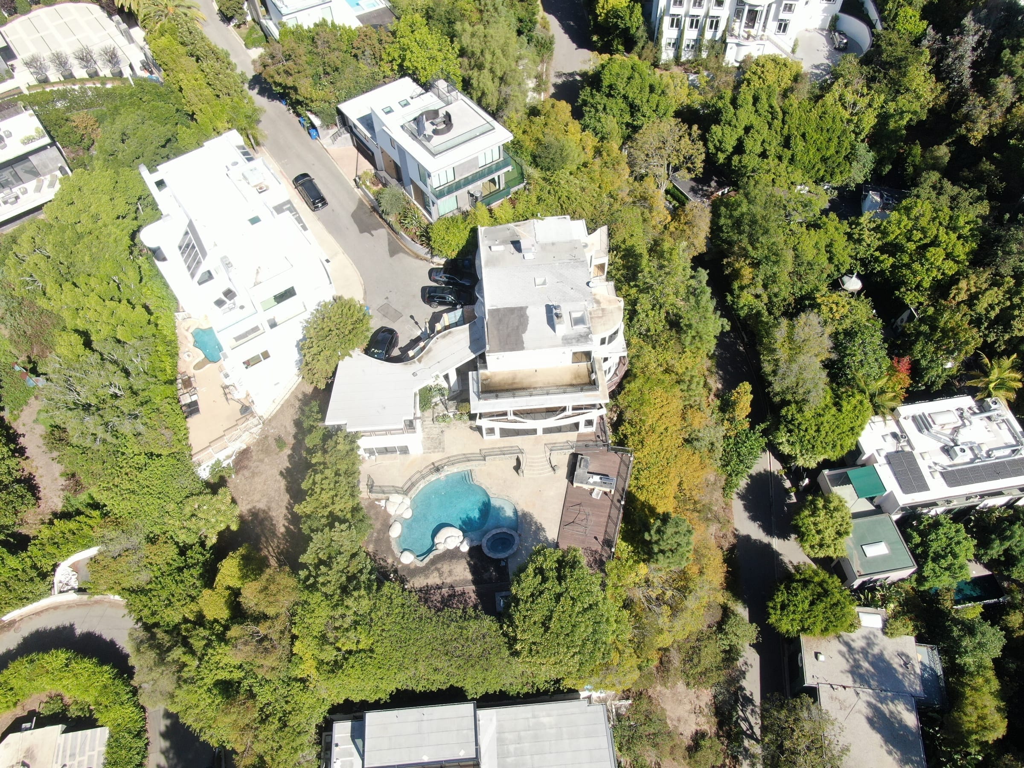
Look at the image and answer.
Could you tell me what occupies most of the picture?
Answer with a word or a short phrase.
trees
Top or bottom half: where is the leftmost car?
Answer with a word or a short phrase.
top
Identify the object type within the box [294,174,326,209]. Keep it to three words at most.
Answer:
car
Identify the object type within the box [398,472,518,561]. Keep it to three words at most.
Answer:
swimming pool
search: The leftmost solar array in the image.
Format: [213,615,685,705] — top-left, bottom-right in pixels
[887,450,930,494]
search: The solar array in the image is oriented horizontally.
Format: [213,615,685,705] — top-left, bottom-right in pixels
[942,460,1024,487]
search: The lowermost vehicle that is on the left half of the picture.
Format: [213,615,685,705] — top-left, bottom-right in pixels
[362,320,402,361]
